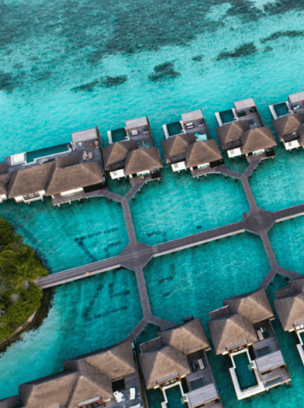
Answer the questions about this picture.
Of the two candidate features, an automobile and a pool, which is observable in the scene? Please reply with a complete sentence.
There is a pool in the scene.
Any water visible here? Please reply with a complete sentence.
Yes, water can be seen from above here.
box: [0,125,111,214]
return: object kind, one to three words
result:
house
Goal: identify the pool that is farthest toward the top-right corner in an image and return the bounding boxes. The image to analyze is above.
[270,103,293,120]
